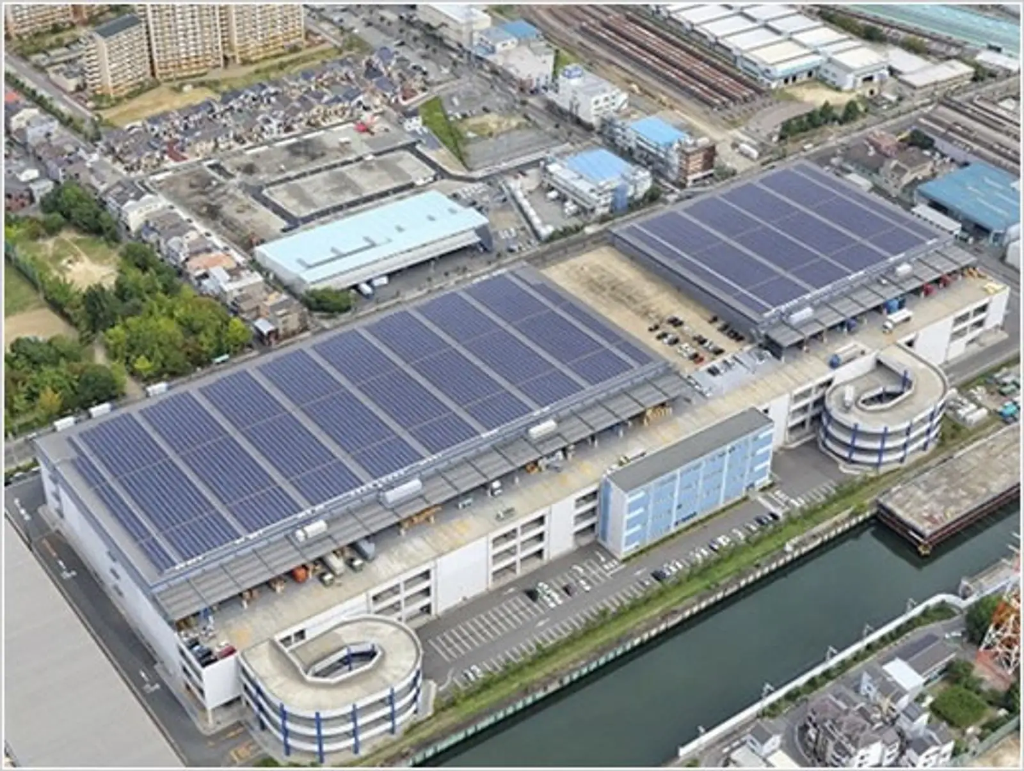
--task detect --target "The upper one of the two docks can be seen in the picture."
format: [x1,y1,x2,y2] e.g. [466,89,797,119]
[875,418,1024,550]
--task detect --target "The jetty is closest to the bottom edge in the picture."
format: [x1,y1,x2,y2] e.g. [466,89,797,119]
[945,544,1024,601]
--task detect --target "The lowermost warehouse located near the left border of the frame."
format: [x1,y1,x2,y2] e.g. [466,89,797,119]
[0,504,187,771]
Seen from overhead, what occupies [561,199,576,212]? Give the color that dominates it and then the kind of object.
white vehicle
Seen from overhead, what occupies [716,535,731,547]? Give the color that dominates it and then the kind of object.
white vehicle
